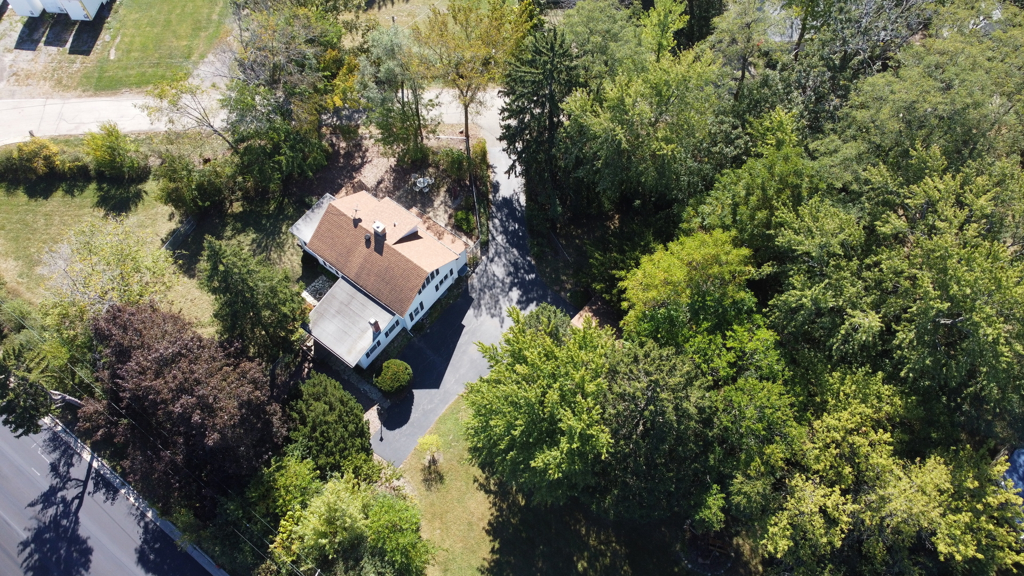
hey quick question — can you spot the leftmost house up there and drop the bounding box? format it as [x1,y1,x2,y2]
[286,191,472,370]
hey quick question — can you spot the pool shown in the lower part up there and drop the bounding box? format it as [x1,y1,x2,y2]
[1004,441,1024,499]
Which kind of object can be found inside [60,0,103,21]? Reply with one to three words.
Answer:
trailer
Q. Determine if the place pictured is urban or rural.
rural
